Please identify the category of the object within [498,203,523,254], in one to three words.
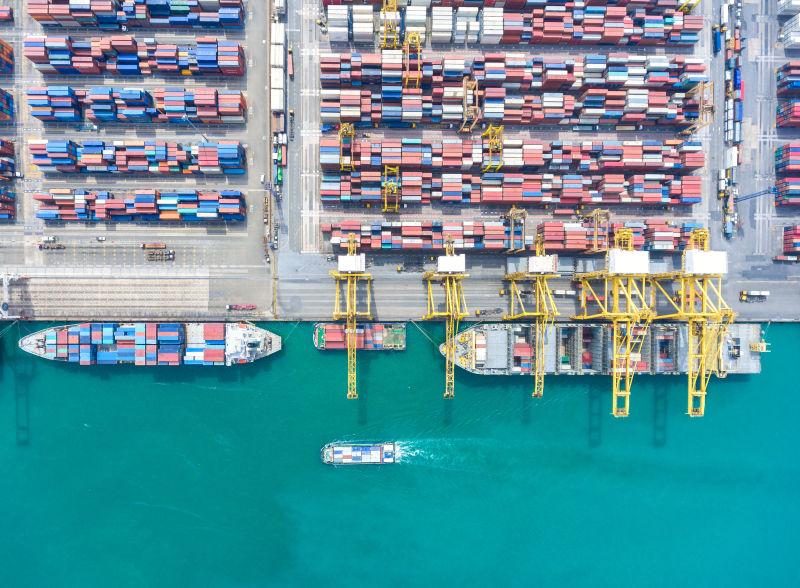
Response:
container crane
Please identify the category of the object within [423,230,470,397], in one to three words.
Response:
container crane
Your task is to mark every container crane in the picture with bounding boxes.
[337,118,358,175]
[570,223,654,415]
[457,77,479,133]
[402,27,422,90]
[634,223,737,415]
[331,230,379,397]
[498,203,523,254]
[423,230,470,397]
[480,123,503,173]
[502,230,562,397]
[577,203,606,254]
[683,78,719,134]
[382,165,402,214]
[0,273,31,316]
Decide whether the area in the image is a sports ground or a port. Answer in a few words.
port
